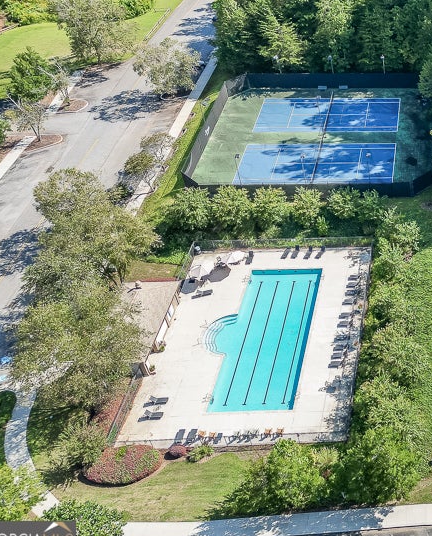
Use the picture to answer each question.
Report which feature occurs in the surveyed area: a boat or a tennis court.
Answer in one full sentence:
The one in the frame is a tennis court.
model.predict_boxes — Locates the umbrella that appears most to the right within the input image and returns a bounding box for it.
[222,249,248,272]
